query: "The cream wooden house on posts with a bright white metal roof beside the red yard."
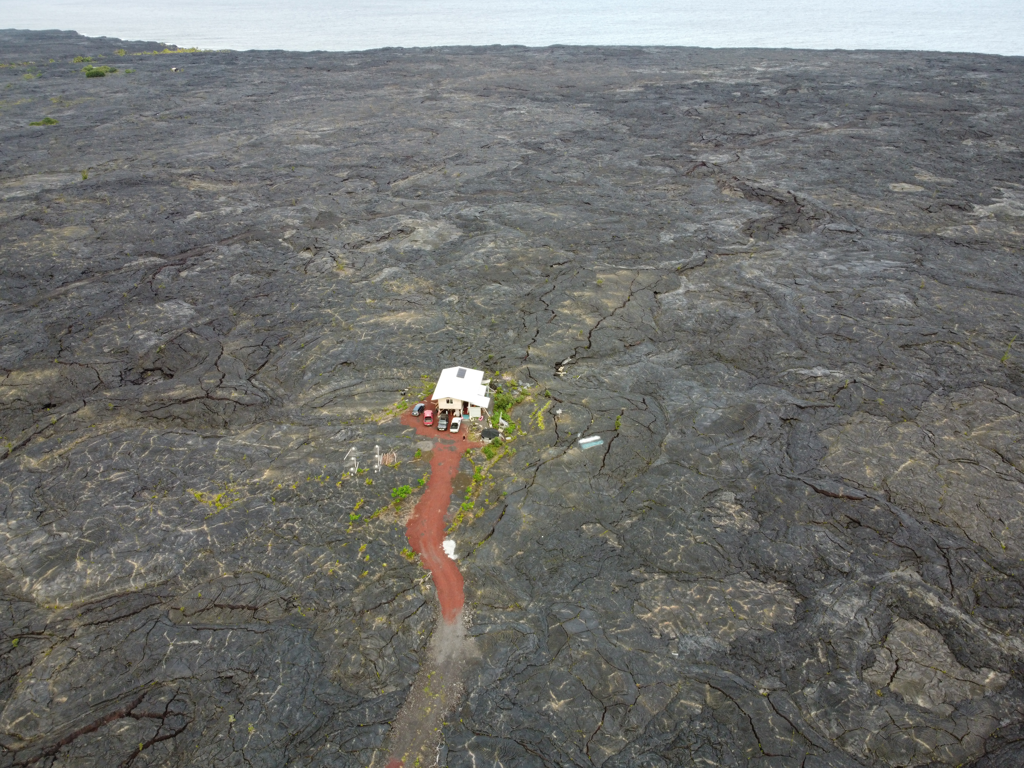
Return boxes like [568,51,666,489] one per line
[432,365,490,419]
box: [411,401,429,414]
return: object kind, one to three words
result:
vehicle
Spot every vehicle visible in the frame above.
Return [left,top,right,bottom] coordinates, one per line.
[449,413,463,431]
[423,407,434,423]
[411,401,429,414]
[436,410,447,428]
